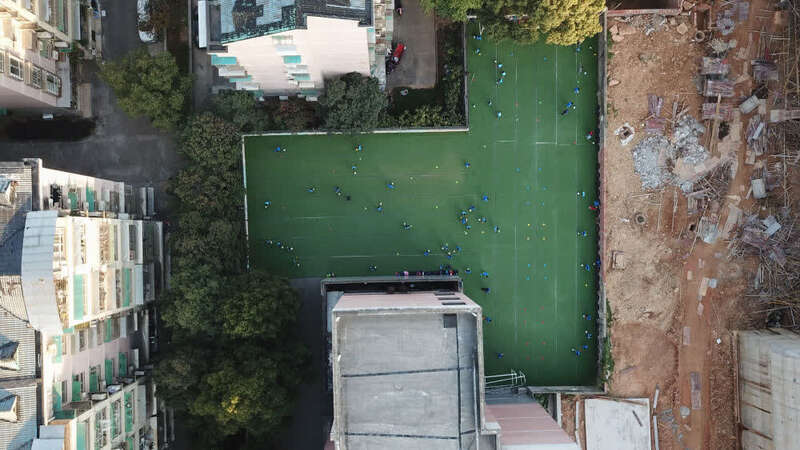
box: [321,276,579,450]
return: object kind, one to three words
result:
building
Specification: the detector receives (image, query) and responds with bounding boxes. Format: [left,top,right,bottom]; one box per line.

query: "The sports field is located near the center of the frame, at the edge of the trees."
[248,0,593,392]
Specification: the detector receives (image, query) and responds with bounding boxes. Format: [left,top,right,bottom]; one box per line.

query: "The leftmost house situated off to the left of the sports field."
[0,0,74,107]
